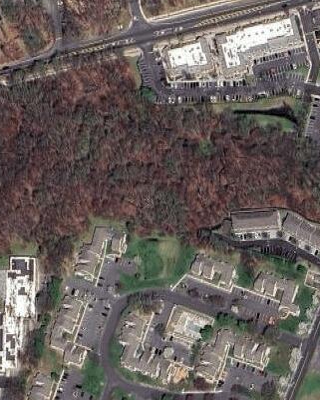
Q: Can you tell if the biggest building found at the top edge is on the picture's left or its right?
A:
right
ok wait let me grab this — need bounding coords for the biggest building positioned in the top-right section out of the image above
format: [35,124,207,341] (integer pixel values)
[221,19,294,69]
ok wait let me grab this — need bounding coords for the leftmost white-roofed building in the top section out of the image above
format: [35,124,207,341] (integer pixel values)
[169,43,208,70]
